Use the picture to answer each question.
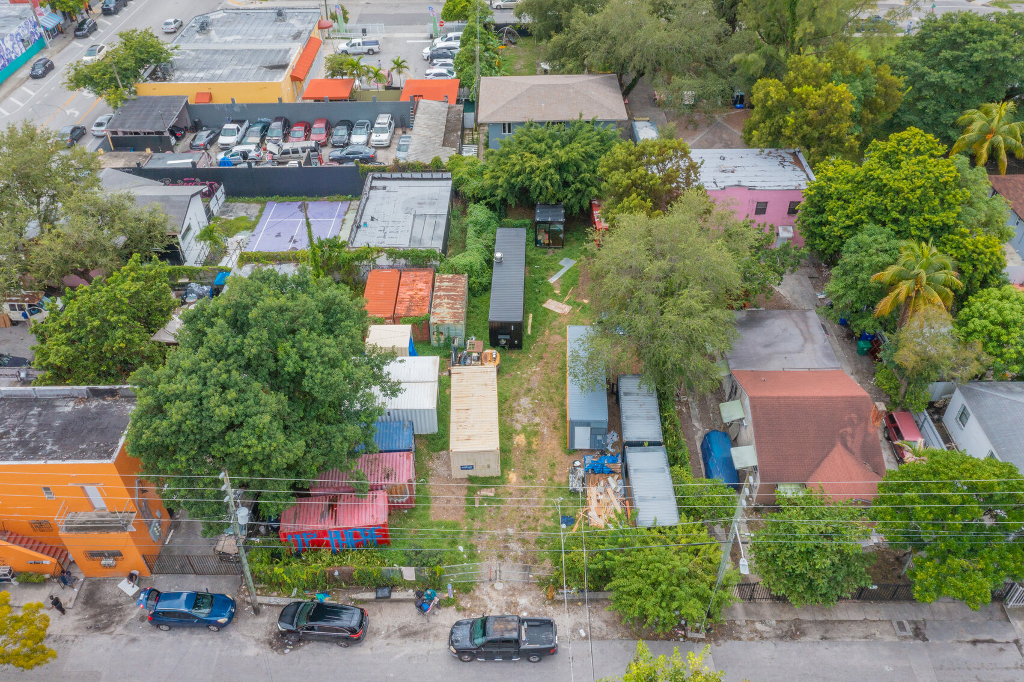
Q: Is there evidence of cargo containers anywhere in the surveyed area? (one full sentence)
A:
Yes, the photo shows a cargo container.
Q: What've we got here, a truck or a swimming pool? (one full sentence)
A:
This aerial view contains a truck.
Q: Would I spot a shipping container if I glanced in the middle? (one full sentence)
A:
Yes, in the middle there is a shipping container.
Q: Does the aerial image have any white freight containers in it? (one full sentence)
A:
Yes, you can see a white freight container in this photo.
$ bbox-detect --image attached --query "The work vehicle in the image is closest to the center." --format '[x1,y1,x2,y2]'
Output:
[436,332,498,378]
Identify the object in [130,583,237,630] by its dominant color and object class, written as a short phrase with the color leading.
blue car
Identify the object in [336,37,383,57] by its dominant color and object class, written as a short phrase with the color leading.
white vehicle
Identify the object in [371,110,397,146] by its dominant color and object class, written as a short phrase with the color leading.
white car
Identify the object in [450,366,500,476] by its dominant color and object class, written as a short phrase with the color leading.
white shipping container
